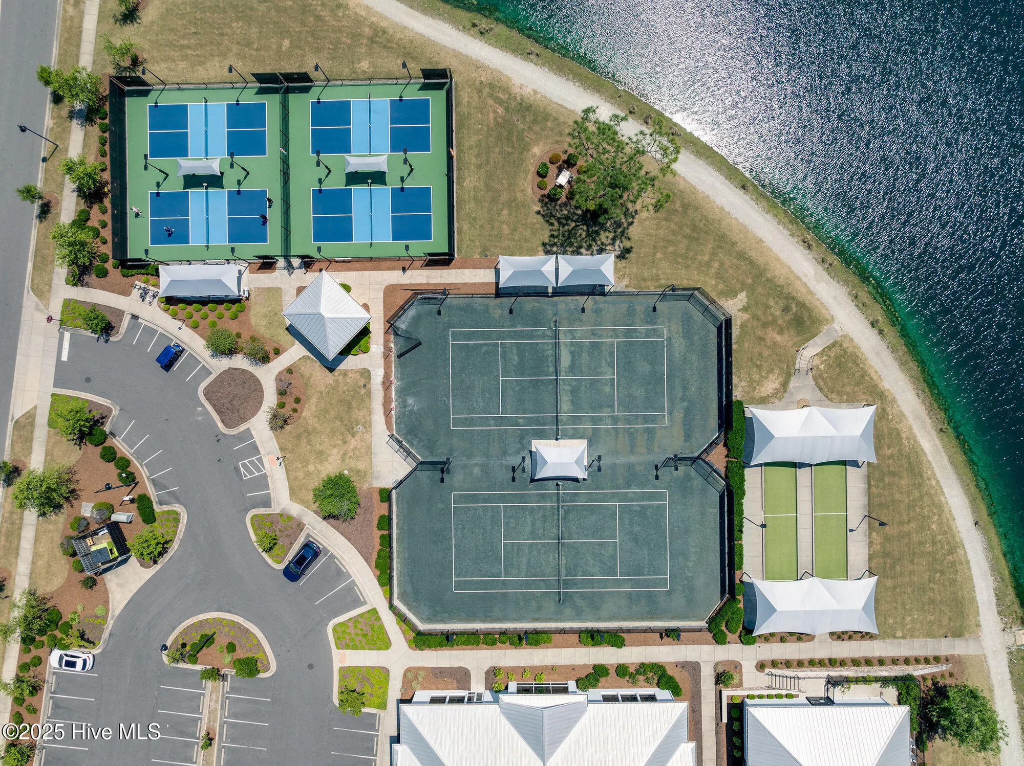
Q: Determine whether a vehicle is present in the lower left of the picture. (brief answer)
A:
Yes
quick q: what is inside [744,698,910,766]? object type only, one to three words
building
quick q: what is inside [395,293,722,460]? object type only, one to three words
tennis court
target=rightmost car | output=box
[284,540,321,584]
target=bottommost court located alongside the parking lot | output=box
[393,457,727,630]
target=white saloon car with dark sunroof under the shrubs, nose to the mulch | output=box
[51,648,97,672]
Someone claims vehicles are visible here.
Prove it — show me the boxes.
[156,343,186,372]
[51,648,97,672]
[284,540,321,584]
